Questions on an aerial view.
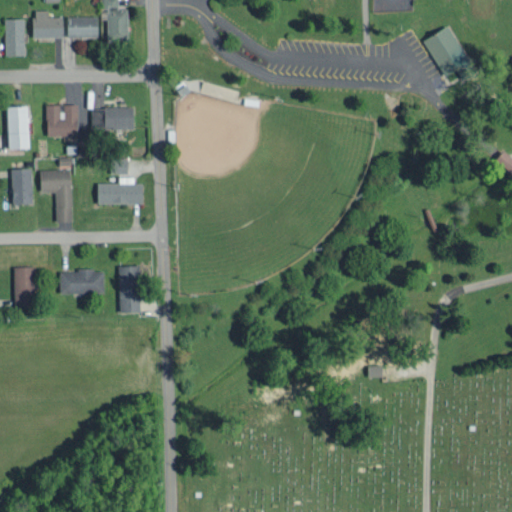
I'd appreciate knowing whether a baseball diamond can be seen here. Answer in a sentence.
Yes, I can see a baseball diamond in this picture.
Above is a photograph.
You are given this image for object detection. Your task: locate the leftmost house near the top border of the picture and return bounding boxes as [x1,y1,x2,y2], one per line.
[5,18,26,57]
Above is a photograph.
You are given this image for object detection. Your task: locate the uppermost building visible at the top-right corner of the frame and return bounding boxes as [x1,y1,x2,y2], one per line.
[424,28,470,81]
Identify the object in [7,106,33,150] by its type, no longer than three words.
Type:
house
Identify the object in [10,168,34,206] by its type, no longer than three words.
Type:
house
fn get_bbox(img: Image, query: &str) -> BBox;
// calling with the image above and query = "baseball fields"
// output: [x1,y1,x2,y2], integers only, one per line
[175,93,376,296]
